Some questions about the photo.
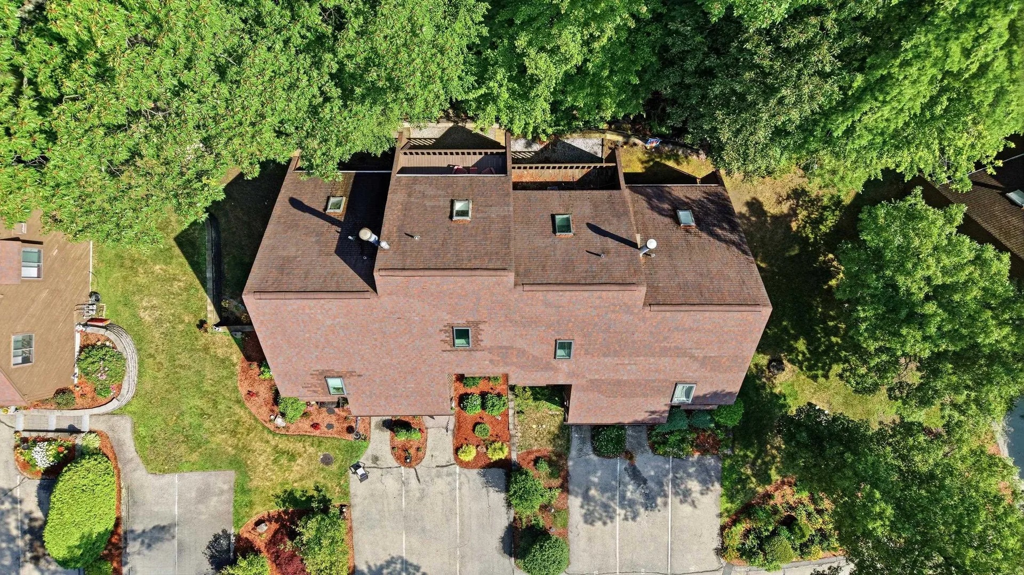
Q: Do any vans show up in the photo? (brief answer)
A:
No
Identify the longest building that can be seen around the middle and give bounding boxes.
[242,131,770,426]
